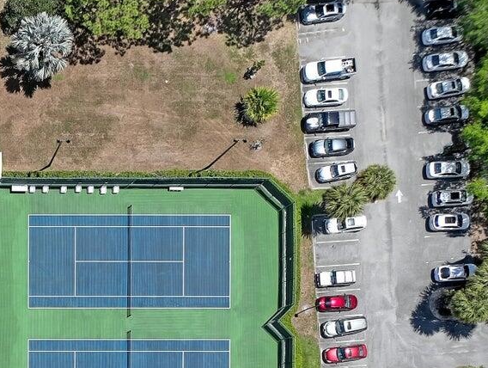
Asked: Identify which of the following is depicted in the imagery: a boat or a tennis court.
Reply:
tennis court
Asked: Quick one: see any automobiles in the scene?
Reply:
Yes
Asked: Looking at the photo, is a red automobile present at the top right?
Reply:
No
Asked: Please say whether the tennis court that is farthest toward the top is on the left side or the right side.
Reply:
left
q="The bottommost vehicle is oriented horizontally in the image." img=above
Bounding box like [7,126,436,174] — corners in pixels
[322,344,367,363]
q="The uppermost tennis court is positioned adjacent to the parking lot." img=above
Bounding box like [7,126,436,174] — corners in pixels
[27,214,231,308]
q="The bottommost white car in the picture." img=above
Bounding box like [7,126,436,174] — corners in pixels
[322,316,367,337]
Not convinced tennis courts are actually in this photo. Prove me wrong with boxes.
[27,338,231,368]
[27,214,231,308]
